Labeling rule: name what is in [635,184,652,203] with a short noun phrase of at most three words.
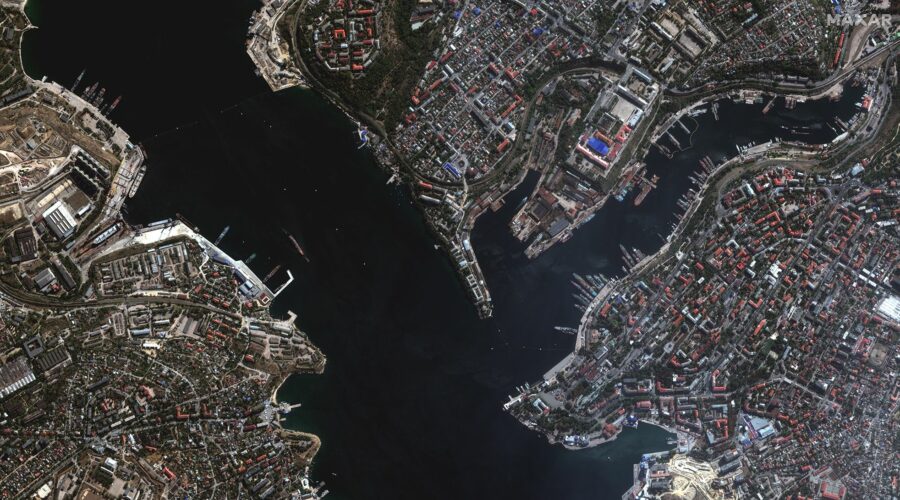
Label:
ship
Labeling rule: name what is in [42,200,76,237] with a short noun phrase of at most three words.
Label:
building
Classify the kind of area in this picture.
port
